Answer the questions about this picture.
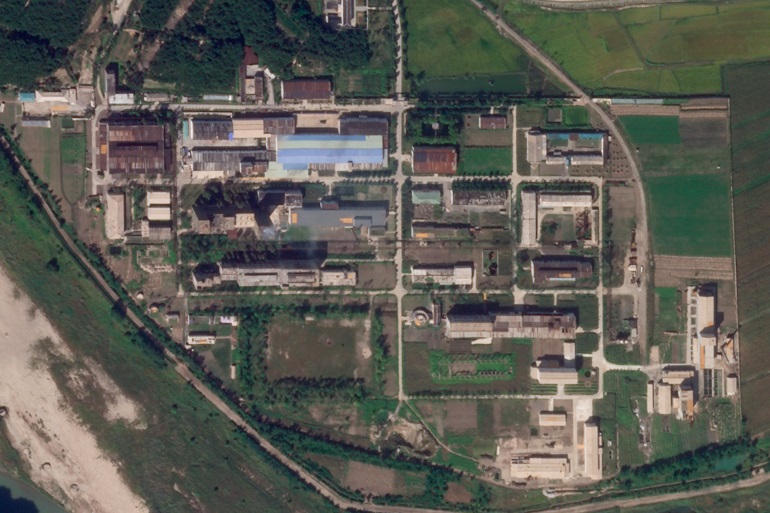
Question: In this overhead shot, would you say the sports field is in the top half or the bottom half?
bottom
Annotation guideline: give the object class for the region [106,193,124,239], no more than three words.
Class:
house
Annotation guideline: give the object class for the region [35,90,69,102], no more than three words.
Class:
house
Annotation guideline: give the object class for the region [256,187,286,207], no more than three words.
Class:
building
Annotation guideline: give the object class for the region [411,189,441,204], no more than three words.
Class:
building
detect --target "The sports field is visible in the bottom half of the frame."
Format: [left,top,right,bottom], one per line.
[266,317,372,381]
